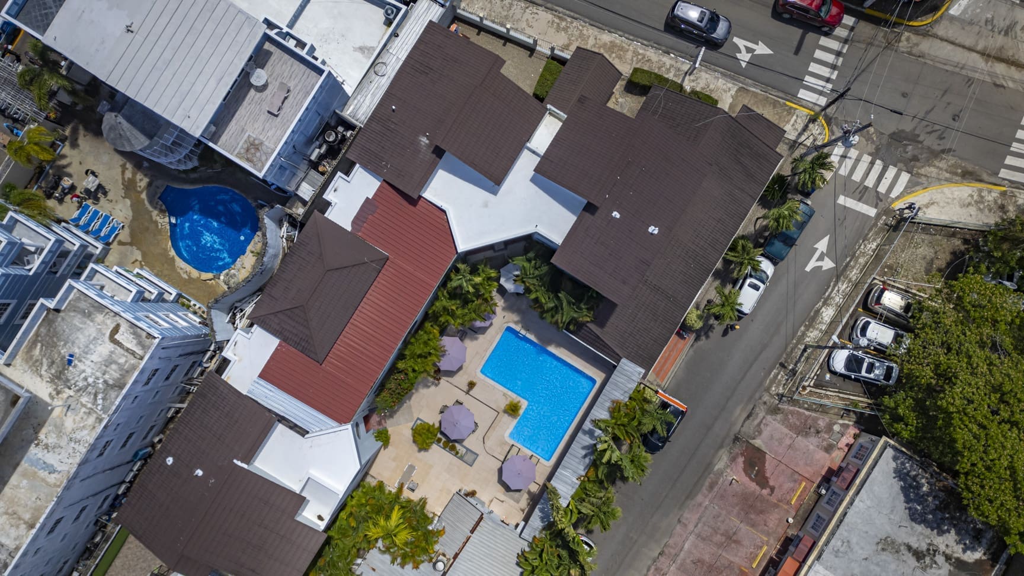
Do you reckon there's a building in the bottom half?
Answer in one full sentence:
Yes, a building is visible in the bottom half.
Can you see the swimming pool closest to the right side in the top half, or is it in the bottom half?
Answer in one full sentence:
The swimming pool closest to the right side is in the bottom half of the image.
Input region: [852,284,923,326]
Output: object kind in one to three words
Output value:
car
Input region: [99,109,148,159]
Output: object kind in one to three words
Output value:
umbrella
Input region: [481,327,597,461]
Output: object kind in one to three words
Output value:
swimming pool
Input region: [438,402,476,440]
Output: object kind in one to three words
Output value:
umbrella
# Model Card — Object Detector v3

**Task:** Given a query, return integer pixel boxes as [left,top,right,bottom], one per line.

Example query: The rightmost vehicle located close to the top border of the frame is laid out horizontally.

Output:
[769,0,842,33]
